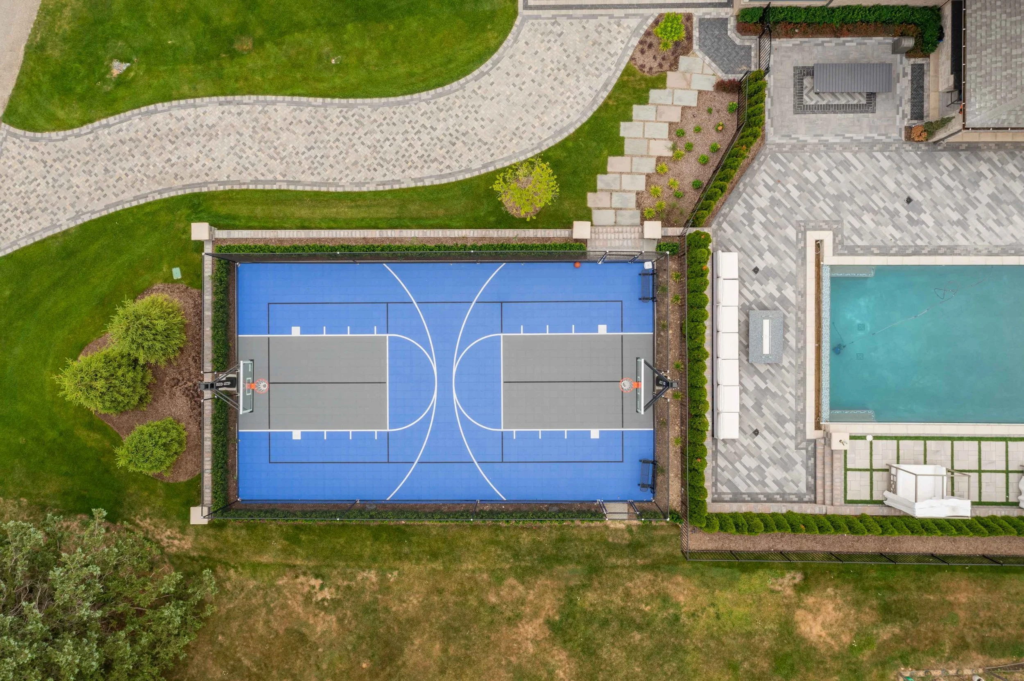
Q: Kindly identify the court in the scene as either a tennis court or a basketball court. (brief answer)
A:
basketball court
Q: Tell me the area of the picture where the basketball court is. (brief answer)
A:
center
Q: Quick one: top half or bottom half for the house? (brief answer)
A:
top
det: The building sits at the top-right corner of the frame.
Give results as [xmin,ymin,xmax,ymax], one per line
[736,0,1024,142]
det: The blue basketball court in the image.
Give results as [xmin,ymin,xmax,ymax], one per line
[237,263,653,504]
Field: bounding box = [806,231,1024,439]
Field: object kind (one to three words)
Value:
swimming pool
